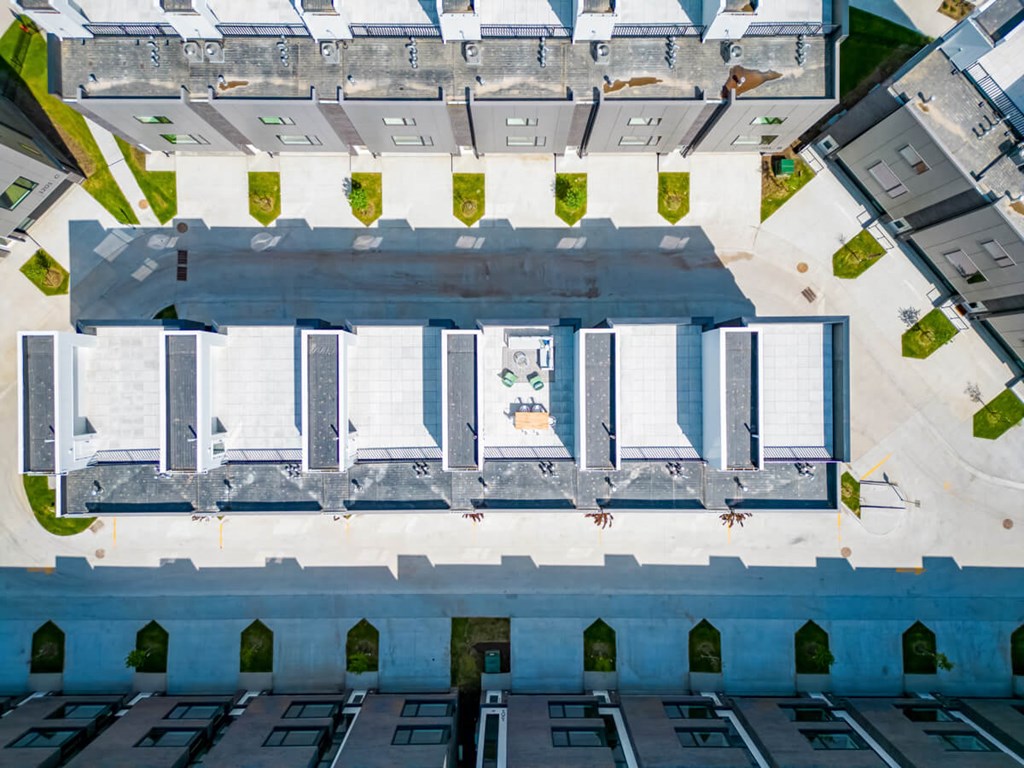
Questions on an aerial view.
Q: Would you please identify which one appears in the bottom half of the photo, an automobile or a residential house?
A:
residential house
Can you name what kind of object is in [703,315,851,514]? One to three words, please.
house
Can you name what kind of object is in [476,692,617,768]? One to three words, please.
house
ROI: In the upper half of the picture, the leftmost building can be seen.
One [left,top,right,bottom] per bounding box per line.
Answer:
[0,100,89,257]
